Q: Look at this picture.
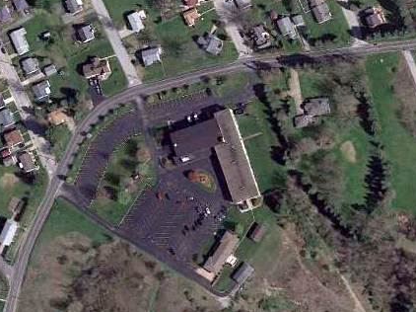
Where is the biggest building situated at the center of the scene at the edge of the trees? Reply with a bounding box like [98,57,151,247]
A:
[169,108,262,212]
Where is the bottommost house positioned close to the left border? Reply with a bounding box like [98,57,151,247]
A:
[0,217,19,247]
